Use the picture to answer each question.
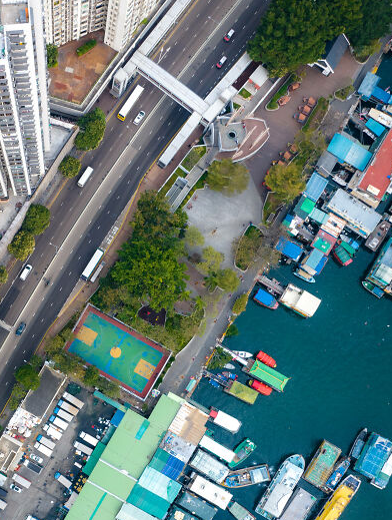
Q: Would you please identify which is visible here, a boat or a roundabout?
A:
boat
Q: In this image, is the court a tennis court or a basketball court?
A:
basketball court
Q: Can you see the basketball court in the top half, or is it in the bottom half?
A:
bottom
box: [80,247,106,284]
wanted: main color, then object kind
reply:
white bus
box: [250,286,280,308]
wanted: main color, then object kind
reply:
blue boat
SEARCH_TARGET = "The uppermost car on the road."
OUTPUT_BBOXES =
[222,28,234,44]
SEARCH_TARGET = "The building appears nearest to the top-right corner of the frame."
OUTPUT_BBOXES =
[309,32,345,79]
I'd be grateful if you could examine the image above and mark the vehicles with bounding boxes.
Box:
[53,467,75,491]
[11,472,34,492]
[33,441,55,460]
[115,83,145,125]
[47,413,71,432]
[77,166,93,188]
[29,453,46,465]
[57,396,81,415]
[9,481,26,493]
[15,321,26,336]
[22,457,45,477]
[80,247,106,284]
[214,57,226,70]
[72,438,96,458]
[222,28,234,44]
[43,422,65,442]
[19,264,33,283]
[53,405,76,422]
[0,499,10,513]
[35,433,58,452]
[78,431,100,449]
[133,110,146,126]
[62,390,86,410]
[25,513,38,520]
